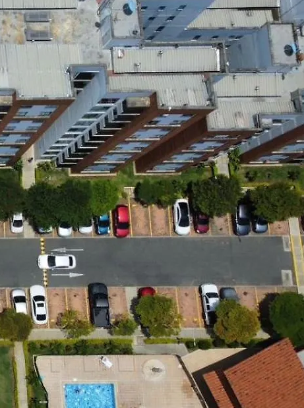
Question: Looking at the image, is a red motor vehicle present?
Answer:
Yes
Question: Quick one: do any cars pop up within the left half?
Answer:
Yes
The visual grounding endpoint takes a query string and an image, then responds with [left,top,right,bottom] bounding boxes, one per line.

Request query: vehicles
[198,283,221,326]
[36,253,77,271]
[37,224,54,243]
[171,199,192,236]
[94,209,112,239]
[29,285,47,325]
[10,287,28,312]
[57,224,74,242]
[136,286,154,305]
[9,208,26,238]
[217,287,237,304]
[249,209,270,239]
[231,200,252,237]
[191,208,210,234]
[88,283,109,328]
[75,219,92,239]
[112,203,132,239]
